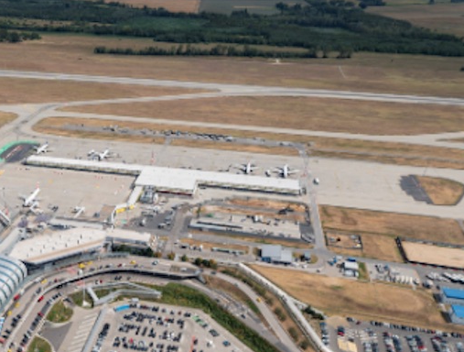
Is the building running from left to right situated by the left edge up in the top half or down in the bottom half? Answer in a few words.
bottom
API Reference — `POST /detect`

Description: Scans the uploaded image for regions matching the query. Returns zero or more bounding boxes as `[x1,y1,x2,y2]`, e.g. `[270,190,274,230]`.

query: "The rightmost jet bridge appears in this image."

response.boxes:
[29,201,42,214]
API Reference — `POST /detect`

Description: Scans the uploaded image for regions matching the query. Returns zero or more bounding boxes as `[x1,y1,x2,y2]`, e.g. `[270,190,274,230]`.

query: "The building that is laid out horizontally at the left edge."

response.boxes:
[0,218,151,276]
